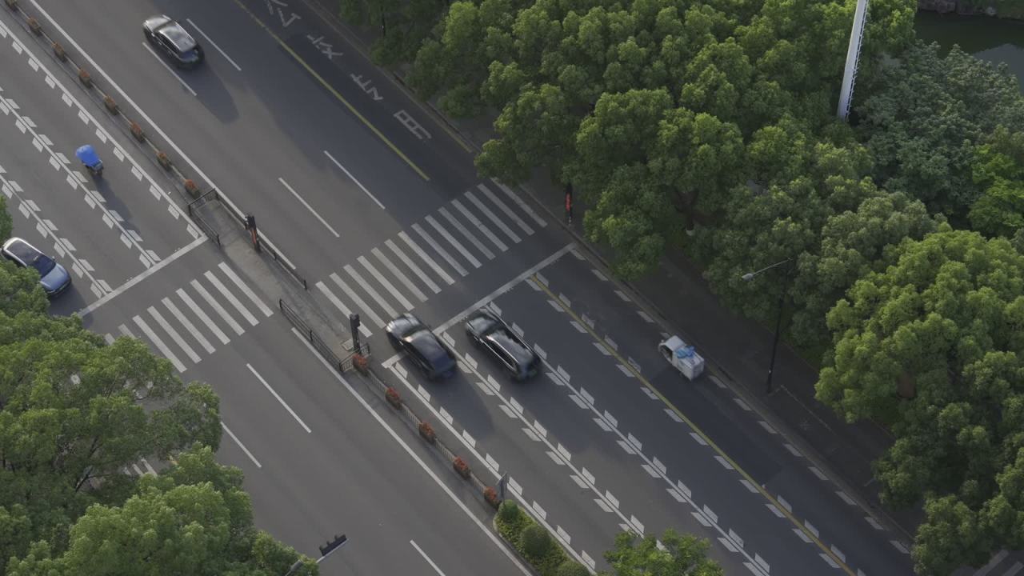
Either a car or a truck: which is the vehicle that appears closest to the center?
car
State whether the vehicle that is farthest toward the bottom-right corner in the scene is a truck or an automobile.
truck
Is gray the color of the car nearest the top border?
Yes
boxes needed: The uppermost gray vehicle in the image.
[142,7,202,61]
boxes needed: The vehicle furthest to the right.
[660,327,708,377]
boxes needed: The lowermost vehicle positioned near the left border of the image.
[0,238,69,296]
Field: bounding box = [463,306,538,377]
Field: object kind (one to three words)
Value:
car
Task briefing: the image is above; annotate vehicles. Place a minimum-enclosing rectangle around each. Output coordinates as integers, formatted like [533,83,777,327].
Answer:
[382,309,455,378]
[142,7,202,61]
[75,145,104,181]
[660,327,708,377]
[0,238,69,296]
[463,306,538,377]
